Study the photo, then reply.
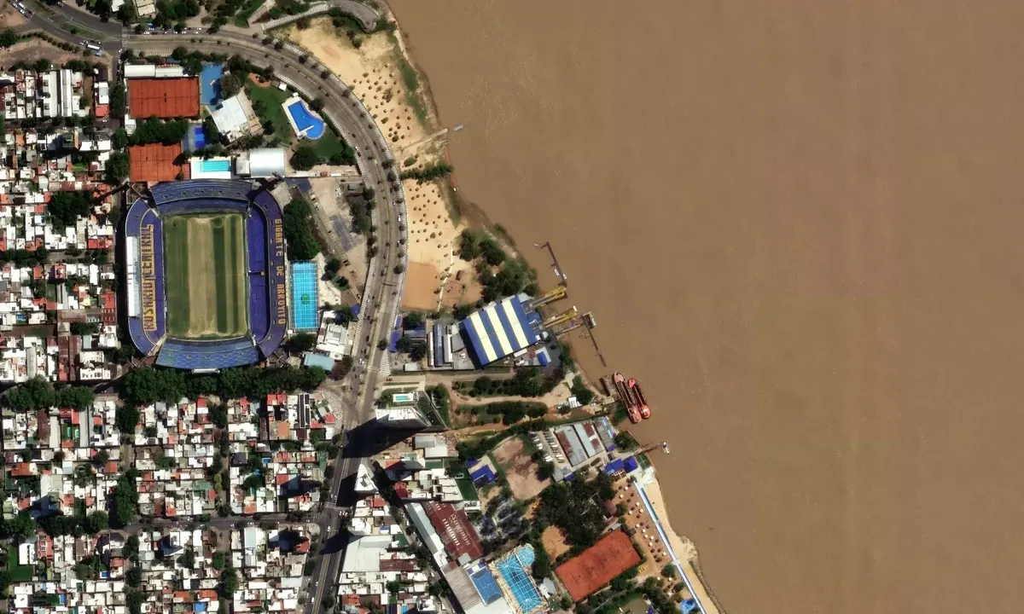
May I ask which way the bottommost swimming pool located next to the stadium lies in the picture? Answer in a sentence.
In this picture, the bottommost swimming pool located next to the stadium lies vertically.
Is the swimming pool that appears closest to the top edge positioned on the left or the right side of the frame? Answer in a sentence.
It is on the left.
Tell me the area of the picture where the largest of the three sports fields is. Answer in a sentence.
The largest of the three sports fields is in the left part of the image.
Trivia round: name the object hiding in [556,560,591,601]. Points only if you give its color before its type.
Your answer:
red tennis court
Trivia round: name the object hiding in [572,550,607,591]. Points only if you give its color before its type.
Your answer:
red tennis court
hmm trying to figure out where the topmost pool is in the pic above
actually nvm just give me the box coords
[282,95,329,141]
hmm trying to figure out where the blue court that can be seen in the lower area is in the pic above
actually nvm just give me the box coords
[472,566,503,606]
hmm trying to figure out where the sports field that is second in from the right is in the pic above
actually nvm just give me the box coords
[402,263,440,308]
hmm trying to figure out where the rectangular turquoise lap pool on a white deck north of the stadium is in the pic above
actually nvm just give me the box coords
[191,157,231,179]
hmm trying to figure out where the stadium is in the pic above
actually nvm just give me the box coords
[118,168,290,374]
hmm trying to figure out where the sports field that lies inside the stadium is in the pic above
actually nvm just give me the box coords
[161,211,251,342]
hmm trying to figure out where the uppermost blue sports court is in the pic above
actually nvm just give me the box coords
[201,63,222,105]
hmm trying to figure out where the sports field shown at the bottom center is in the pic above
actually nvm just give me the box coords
[495,438,547,500]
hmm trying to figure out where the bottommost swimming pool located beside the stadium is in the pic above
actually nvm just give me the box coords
[290,261,320,330]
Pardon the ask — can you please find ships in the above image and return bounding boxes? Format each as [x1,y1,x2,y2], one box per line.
[614,371,639,424]
[629,379,650,419]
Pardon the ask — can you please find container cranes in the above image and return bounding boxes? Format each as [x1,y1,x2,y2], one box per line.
[531,286,567,308]
[542,309,577,331]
